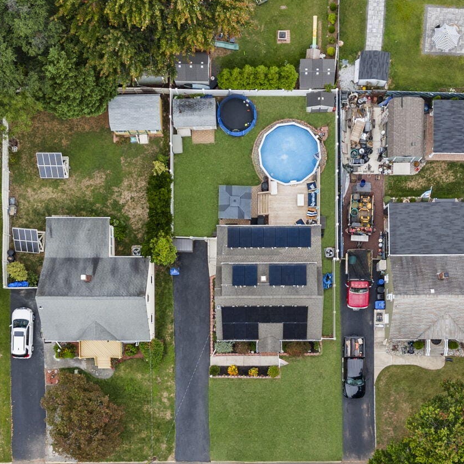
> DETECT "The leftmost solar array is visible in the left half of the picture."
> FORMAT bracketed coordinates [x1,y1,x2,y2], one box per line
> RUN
[11,228,46,254]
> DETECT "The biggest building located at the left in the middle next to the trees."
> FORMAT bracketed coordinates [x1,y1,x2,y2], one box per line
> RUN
[33,216,156,342]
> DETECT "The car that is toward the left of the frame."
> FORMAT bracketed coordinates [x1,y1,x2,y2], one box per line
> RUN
[9,307,36,358]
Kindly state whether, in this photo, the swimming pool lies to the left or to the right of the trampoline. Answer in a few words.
on its right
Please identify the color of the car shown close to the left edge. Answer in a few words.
white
